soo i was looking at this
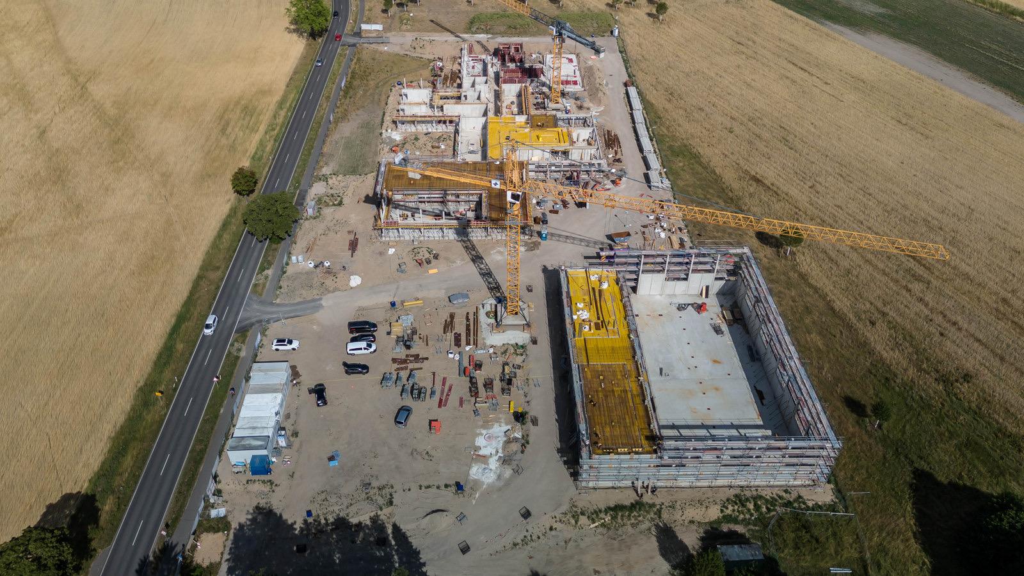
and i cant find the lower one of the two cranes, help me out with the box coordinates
[392,138,942,324]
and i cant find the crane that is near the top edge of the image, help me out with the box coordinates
[501,0,601,104]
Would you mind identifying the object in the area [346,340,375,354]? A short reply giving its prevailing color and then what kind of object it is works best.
white vehicle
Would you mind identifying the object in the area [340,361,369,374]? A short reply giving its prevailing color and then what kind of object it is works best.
black vehicle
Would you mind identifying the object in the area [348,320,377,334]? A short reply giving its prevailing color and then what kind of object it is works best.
black vehicle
